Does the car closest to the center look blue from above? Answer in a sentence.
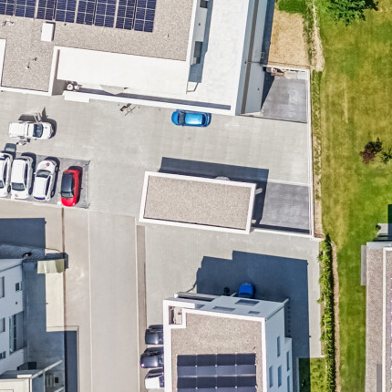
Yes, the car closest to the center is indeed blue.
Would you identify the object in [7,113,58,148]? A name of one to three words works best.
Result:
car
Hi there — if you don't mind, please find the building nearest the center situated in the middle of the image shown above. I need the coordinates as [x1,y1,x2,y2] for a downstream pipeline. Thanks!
[139,169,267,234]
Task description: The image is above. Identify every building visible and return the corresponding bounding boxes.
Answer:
[139,169,267,234]
[0,259,66,392]
[0,0,270,114]
[163,284,300,392]
[361,232,392,392]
